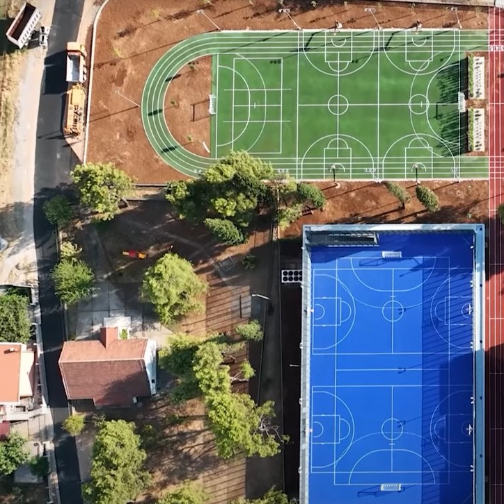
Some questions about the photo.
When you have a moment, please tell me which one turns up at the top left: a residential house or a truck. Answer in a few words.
truck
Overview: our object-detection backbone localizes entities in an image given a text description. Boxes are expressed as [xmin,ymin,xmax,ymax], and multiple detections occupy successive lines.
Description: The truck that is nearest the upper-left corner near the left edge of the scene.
[5,4,46,46]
